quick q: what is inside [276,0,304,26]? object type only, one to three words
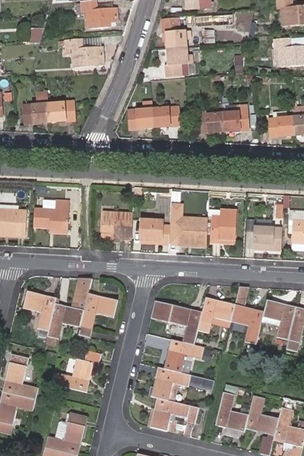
house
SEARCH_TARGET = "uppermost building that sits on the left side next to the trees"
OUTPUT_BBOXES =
[80,0,120,30]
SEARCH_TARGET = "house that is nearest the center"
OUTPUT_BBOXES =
[140,218,170,245]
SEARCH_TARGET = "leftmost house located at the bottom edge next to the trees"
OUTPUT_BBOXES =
[0,362,39,434]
